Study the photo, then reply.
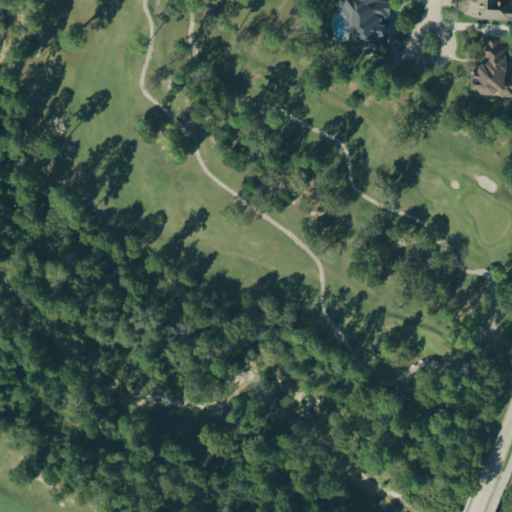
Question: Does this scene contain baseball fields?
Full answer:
No, the scene contains no baseball field.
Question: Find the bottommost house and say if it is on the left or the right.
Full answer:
You can find the bottommost house on the right side of the picture.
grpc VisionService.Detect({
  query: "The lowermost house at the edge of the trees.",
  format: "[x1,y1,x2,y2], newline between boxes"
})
[472,36,512,97]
